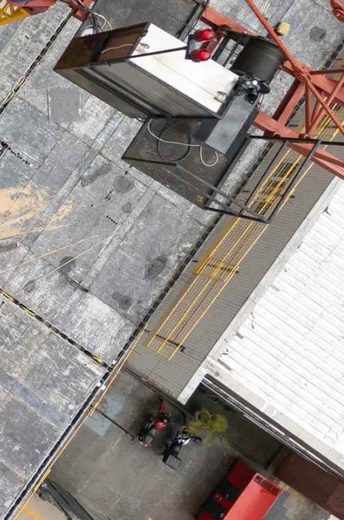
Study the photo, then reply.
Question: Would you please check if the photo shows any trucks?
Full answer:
No, the scene contains no truck.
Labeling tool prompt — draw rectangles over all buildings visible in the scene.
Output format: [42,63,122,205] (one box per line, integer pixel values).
[0,0,344,520]
[161,168,344,507]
